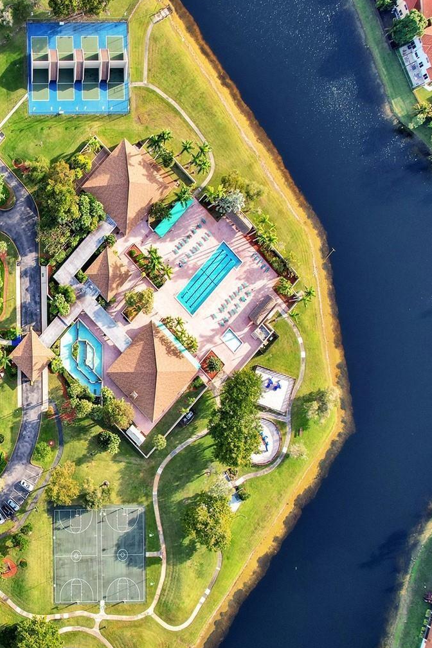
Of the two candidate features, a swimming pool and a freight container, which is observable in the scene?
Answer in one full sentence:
Looking from above, you can make out a swimming pool.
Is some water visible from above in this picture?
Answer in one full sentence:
Yes, some water is visible.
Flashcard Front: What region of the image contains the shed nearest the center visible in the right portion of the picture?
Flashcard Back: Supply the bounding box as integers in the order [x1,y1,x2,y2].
[245,294,277,327]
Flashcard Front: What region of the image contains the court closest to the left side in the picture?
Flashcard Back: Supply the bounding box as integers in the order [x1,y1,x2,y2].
[31,36,51,100]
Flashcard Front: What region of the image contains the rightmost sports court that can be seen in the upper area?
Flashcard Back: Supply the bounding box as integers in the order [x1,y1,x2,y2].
[106,36,128,100]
